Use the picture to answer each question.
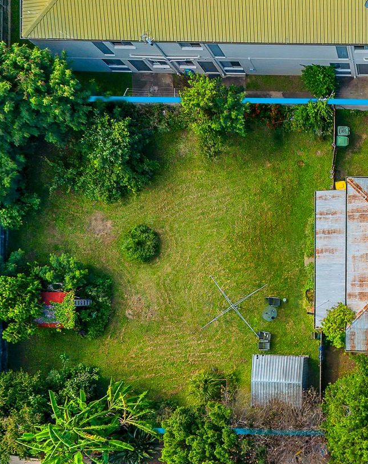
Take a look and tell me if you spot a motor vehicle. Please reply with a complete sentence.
No, there isn't any motor vehicle down there.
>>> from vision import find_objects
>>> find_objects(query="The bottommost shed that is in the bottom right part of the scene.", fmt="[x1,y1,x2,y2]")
[250,354,306,409]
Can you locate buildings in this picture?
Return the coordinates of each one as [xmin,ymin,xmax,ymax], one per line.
[18,0,368,78]
[312,174,368,354]
[250,354,306,409]
[27,291,93,327]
